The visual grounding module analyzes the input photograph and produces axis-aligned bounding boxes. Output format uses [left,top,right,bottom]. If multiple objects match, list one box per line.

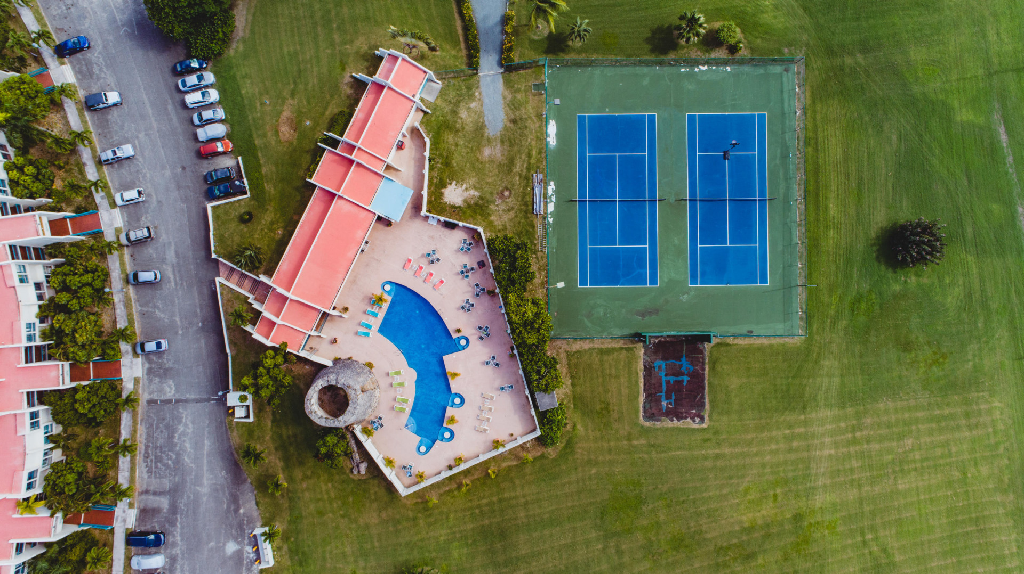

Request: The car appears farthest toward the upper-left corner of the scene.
[56,37,89,57]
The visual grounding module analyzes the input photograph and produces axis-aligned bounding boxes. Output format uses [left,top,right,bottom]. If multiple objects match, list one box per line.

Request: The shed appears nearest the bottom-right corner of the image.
[535,390,559,412]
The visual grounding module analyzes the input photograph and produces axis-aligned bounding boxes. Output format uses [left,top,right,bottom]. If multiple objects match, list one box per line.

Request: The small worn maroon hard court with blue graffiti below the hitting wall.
[643,341,708,424]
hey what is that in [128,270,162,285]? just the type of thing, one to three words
car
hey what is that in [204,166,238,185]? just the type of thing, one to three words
car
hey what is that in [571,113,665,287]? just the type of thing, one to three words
tennis court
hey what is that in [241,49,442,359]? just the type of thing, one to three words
building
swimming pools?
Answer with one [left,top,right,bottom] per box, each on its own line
[378,281,471,456]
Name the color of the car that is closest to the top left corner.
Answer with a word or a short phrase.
blue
